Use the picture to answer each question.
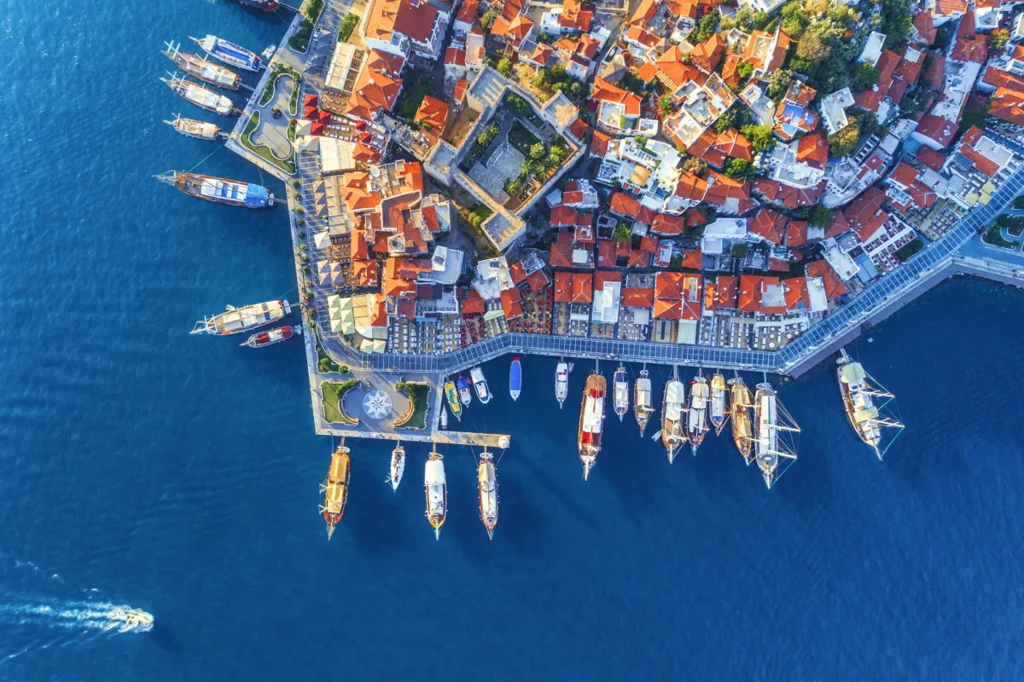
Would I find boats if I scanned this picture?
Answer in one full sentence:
Yes, the image includes a boat.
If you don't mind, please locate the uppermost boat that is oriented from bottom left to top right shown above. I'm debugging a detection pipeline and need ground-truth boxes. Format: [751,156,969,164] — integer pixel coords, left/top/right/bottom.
[260,43,276,58]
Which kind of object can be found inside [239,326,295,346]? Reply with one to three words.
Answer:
boat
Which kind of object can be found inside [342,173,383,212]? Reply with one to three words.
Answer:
house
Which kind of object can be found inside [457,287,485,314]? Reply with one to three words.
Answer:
house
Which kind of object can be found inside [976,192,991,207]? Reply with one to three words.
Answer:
umbrella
